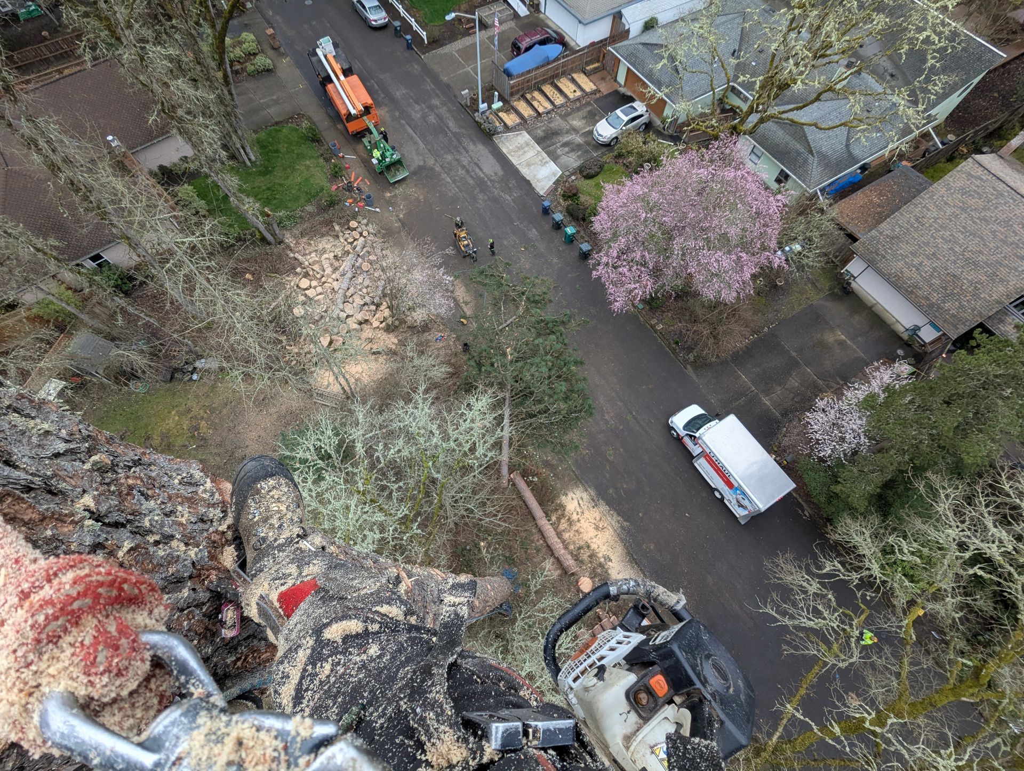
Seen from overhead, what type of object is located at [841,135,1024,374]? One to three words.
house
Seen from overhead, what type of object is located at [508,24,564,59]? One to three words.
vehicle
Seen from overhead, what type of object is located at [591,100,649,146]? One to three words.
car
